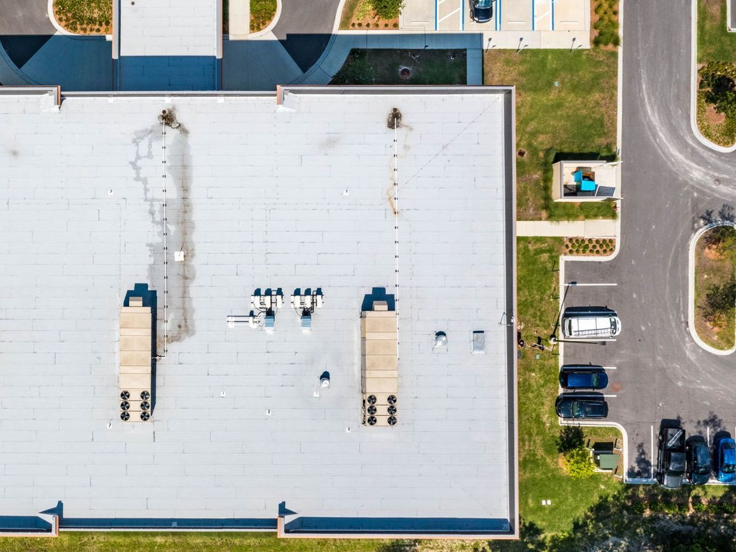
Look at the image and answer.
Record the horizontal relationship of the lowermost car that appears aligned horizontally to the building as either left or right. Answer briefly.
to the right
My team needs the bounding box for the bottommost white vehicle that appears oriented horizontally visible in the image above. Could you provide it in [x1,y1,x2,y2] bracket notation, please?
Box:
[562,315,619,340]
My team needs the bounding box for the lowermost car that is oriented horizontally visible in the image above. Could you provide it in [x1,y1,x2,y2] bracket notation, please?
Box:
[556,396,610,420]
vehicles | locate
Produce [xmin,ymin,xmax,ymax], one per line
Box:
[562,315,619,340]
[712,440,736,484]
[561,367,607,390]
[686,442,713,486]
[556,396,610,420]
[468,0,491,19]
[658,429,689,488]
